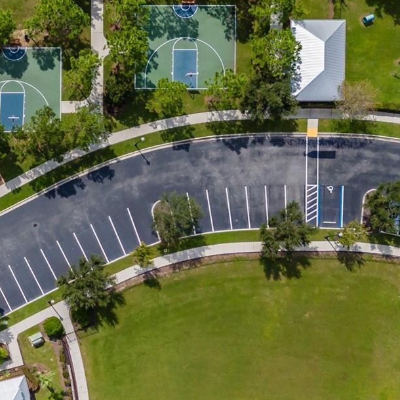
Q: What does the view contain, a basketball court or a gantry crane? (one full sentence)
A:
I can see a basketball court in this picture.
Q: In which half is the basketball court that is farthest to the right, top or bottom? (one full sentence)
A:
You can find the basketball court that is farthest to the right in the top half.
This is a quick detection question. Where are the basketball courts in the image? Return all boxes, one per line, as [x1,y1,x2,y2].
[0,47,61,132]
[134,5,235,89]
